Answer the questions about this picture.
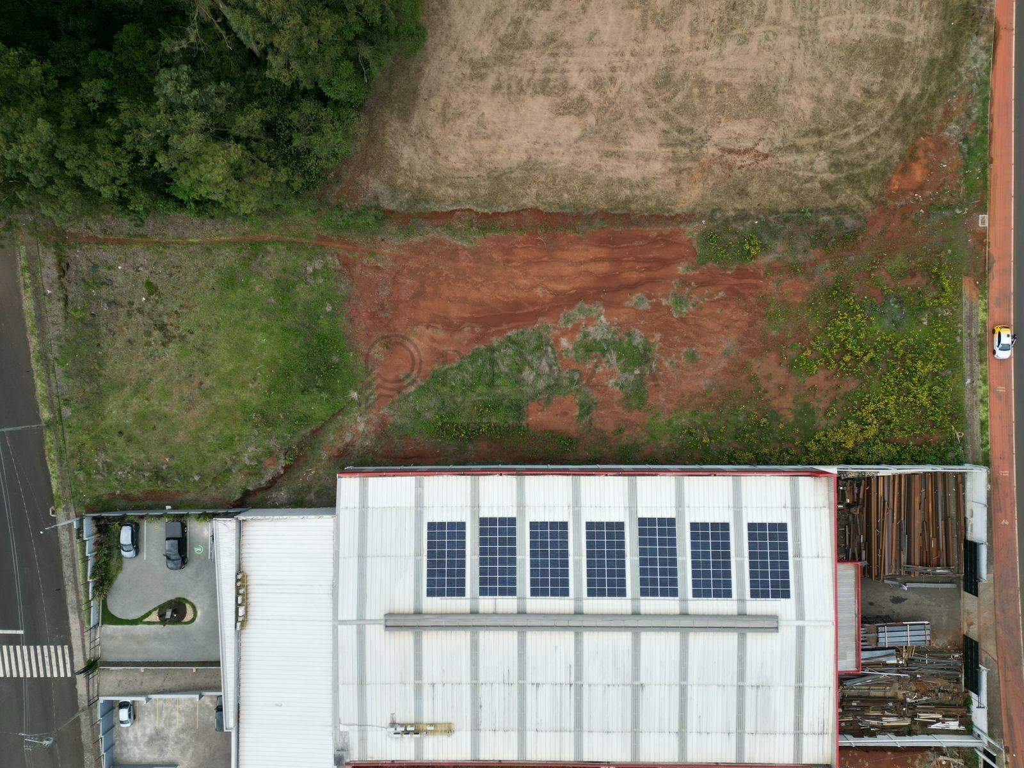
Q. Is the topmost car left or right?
right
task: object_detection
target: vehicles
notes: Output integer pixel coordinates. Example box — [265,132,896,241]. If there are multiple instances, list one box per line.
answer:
[166,522,188,568]
[991,324,1019,359]
[118,523,139,558]
[115,703,136,729]
[213,697,232,736]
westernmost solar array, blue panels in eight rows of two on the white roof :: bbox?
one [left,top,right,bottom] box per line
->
[427,520,466,598]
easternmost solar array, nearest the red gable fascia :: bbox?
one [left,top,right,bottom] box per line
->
[748,521,790,600]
